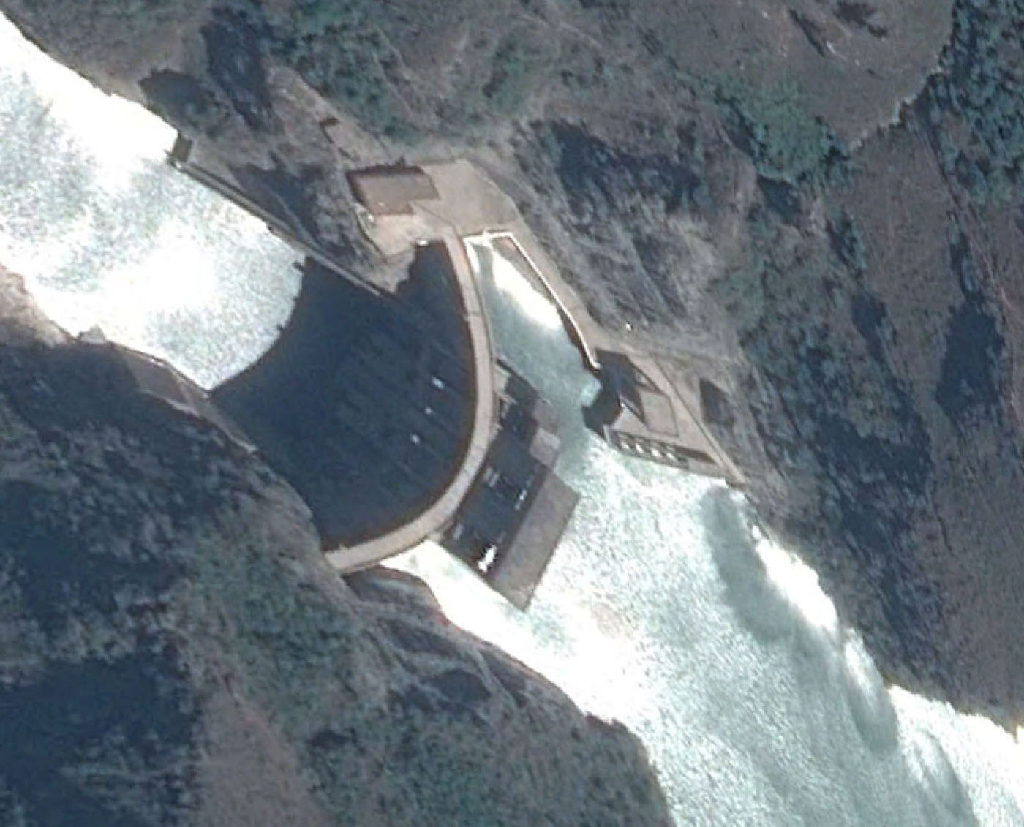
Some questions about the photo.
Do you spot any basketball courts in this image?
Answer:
No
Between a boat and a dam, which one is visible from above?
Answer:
dam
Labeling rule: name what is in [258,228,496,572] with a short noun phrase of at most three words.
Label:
dam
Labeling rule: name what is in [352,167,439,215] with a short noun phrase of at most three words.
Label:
building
